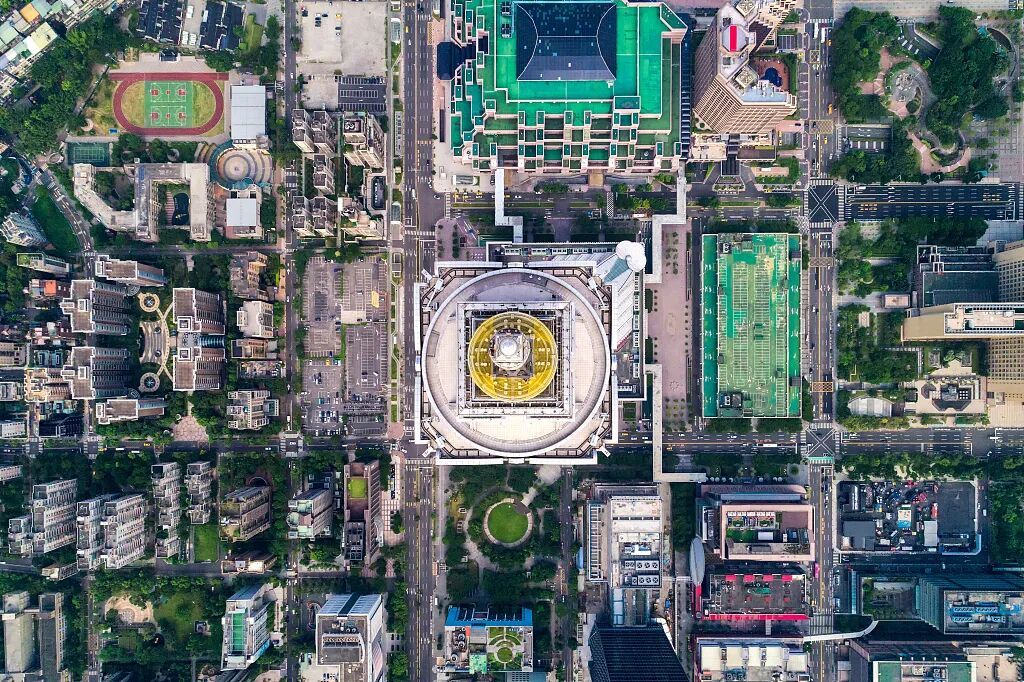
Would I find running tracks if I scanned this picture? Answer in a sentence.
Yes, there's a running track here.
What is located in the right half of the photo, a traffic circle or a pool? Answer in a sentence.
You can see a pool in the right half of the photo.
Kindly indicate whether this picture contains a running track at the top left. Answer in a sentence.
Yes, a running track appears at the top left.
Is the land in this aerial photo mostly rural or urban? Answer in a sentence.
It looks urban.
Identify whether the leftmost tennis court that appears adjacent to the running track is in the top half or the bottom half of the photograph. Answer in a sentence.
It is in the top half that the leftmost tennis court that appears adjacent to the running track appears.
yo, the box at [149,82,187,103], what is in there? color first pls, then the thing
green basketball court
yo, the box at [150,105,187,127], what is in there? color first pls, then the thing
green basketball court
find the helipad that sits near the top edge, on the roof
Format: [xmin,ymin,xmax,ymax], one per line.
[721,25,748,54]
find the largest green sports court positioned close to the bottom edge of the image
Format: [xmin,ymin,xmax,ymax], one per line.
[230,612,248,654]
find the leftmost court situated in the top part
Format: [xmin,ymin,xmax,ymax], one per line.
[65,142,111,165]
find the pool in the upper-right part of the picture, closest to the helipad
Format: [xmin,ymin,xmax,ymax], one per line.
[755,58,789,94]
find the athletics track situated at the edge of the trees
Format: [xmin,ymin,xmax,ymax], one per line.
[109,73,229,135]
